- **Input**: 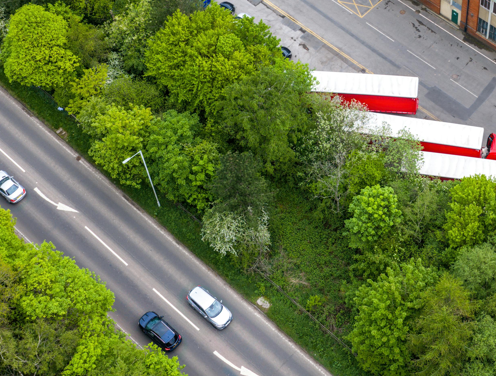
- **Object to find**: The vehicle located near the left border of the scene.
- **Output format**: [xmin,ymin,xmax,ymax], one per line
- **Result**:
[0,170,27,205]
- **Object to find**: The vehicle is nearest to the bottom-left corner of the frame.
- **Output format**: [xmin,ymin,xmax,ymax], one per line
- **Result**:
[139,311,181,352]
